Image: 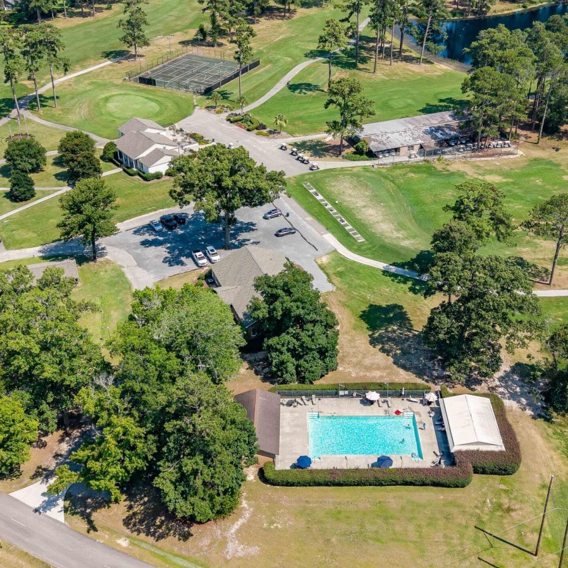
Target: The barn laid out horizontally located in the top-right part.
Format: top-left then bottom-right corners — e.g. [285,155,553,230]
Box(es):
[344,109,489,160]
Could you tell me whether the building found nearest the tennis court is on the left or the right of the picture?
left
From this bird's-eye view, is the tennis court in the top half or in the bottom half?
top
